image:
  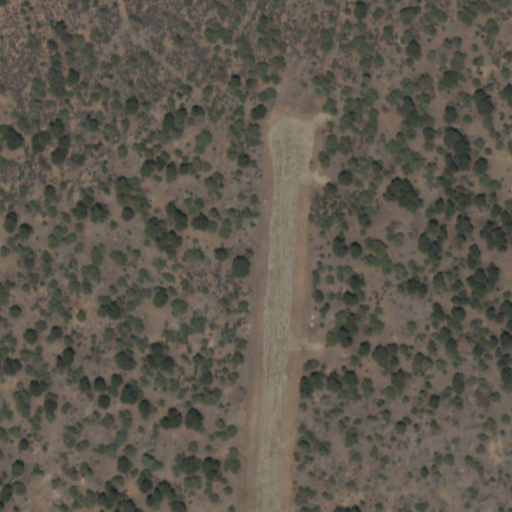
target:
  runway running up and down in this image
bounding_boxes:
[240,110,332,512]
